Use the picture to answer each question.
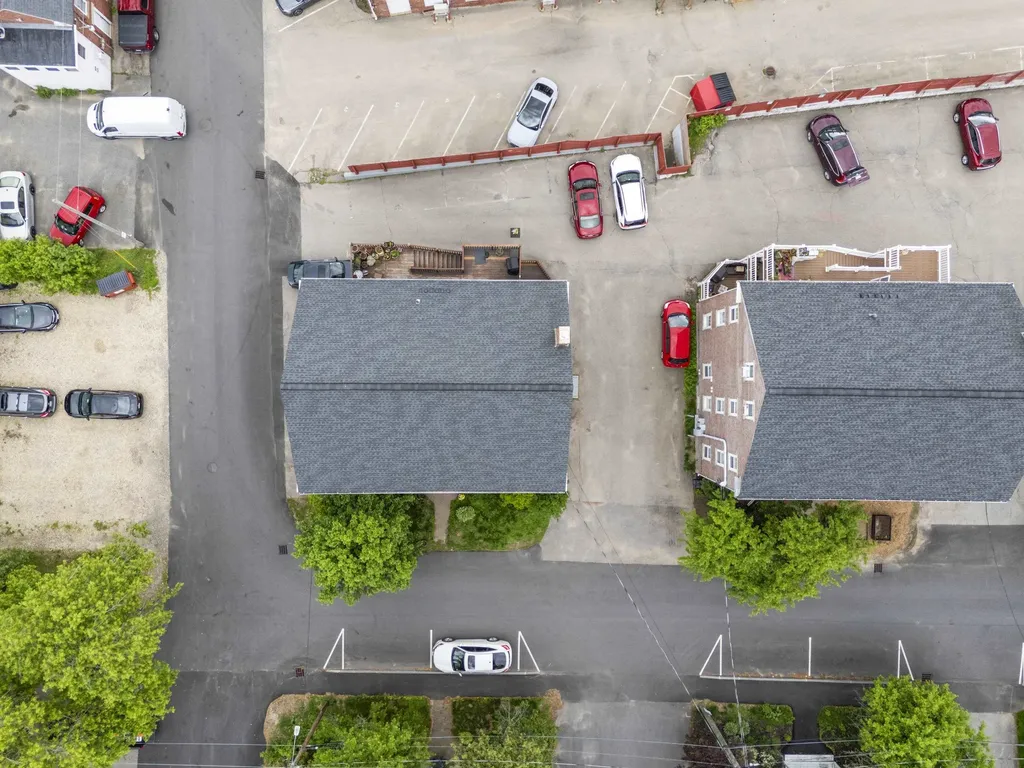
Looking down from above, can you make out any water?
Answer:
No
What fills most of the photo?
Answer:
paved ground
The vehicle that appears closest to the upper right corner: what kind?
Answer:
car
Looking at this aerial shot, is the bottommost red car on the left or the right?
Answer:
right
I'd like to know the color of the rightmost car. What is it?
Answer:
red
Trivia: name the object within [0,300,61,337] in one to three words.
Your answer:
car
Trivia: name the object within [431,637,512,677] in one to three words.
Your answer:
car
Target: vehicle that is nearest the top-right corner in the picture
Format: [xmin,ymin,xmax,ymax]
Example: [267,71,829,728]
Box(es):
[952,97,1003,173]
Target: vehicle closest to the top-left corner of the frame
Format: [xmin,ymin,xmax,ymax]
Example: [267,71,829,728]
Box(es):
[118,0,162,54]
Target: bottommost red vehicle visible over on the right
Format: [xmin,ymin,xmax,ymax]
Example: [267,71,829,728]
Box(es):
[659,299,696,370]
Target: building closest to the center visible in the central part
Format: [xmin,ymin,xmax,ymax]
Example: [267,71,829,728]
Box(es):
[280,280,573,494]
